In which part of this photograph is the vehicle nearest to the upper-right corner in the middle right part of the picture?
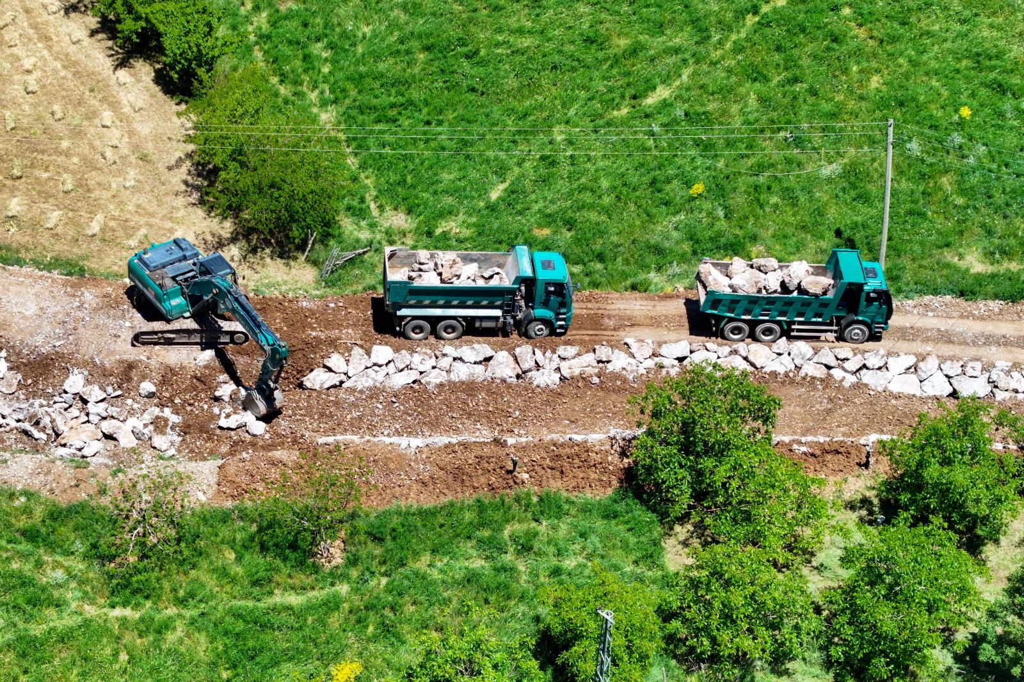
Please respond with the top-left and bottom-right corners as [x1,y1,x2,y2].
[695,247,895,343]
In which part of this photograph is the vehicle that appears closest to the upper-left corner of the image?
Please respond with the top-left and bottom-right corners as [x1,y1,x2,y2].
[129,230,291,411]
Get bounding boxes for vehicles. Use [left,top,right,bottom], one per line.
[129,230,291,411]
[695,247,895,343]
[383,244,578,340]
